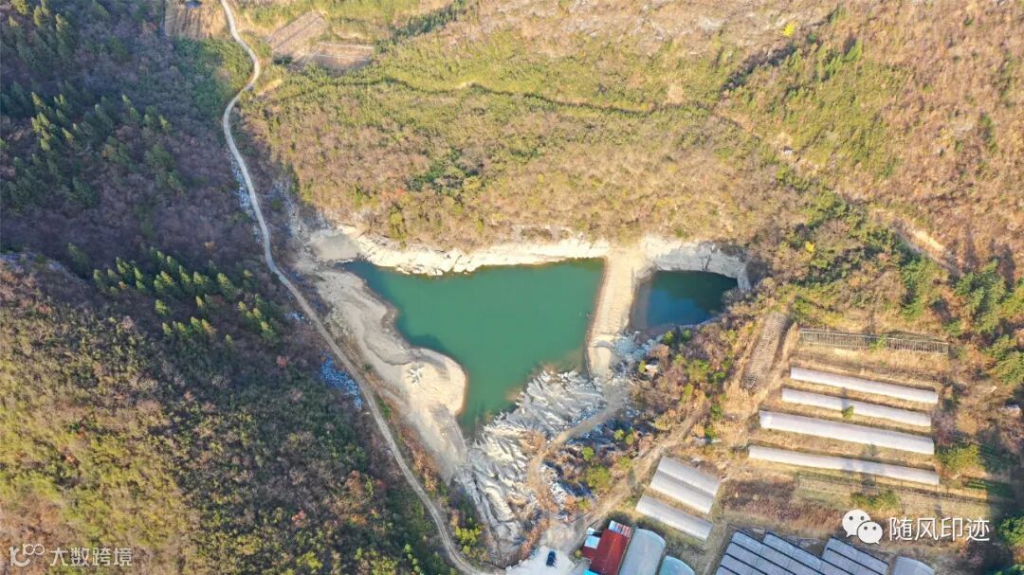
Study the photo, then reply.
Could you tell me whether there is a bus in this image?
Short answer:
No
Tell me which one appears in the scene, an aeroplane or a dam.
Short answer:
dam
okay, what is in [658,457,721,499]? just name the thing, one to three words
greenhouse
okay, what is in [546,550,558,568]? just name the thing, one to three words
vehicle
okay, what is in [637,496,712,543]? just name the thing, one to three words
greenhouse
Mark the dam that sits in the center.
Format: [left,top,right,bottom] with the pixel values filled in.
[589,237,644,376]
